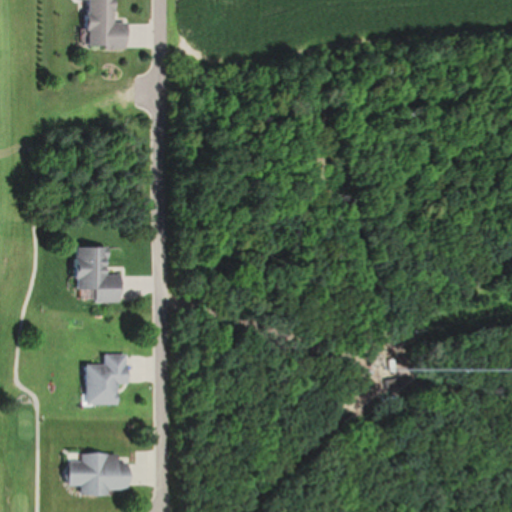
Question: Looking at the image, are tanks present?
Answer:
No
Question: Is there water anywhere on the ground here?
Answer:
No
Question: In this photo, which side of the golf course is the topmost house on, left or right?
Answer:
to its right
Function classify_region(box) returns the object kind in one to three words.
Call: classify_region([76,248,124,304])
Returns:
house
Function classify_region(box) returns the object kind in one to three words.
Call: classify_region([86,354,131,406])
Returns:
house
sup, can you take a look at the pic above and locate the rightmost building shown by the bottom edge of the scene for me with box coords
[68,453,132,497]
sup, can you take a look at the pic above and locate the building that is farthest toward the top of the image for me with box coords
[87,0,130,51]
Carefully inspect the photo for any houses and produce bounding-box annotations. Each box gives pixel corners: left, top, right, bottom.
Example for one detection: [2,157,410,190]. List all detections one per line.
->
[68,453,132,497]
[86,354,131,406]
[76,248,124,304]
[87,0,130,51]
